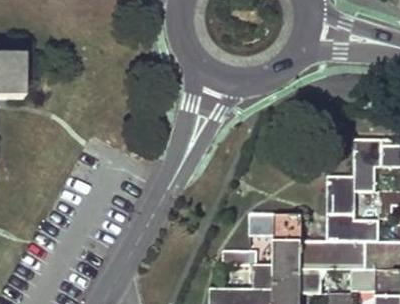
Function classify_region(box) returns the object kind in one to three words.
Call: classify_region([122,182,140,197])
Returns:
car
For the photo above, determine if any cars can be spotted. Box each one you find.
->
[28,244,45,258]
[56,202,74,215]
[15,266,33,280]
[62,190,80,204]
[375,30,394,41]
[78,263,98,278]
[274,60,293,72]
[8,276,28,290]
[102,220,120,234]
[0,298,11,304]
[40,222,59,236]
[108,209,126,223]
[22,256,40,268]
[79,153,97,166]
[50,212,68,226]
[2,286,22,302]
[96,232,114,246]
[69,274,86,288]
[36,233,54,248]
[61,282,80,298]
[122,182,140,197]
[84,253,102,267]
